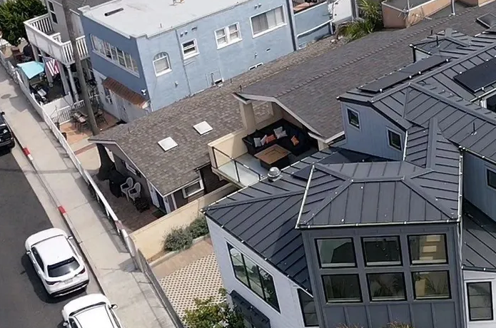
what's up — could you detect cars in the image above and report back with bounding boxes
[0,108,22,154]
[20,225,94,299]
[54,290,127,328]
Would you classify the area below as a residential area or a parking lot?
residential area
